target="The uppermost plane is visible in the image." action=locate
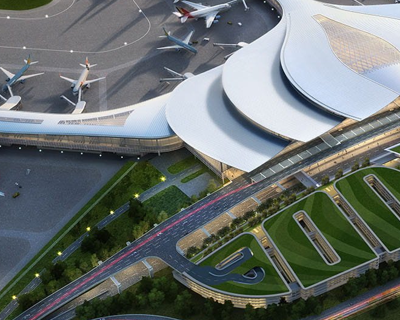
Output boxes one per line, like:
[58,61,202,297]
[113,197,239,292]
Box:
[173,0,230,24]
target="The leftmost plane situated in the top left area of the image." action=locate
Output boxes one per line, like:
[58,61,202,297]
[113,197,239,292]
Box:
[0,54,43,90]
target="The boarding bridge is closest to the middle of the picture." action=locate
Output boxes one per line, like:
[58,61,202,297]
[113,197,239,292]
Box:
[159,66,192,84]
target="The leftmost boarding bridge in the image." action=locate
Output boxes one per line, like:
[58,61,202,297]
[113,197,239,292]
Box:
[0,83,24,110]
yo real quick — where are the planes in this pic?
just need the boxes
[59,60,108,94]
[173,0,230,24]
[0,54,43,90]
[160,30,196,53]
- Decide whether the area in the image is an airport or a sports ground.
airport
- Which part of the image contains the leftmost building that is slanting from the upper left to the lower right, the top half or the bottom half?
bottom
